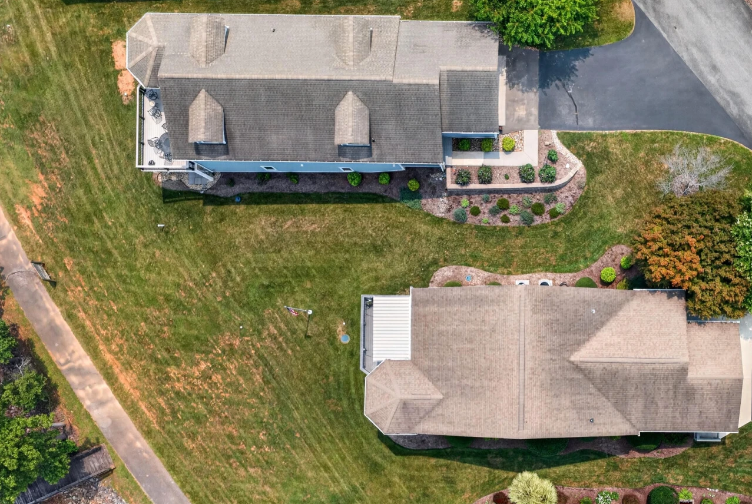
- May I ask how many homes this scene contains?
2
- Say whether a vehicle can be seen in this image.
No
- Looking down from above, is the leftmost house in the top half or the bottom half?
top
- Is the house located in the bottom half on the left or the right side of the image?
right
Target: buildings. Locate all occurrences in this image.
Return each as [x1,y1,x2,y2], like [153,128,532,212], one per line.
[363,284,744,447]
[125,11,502,172]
